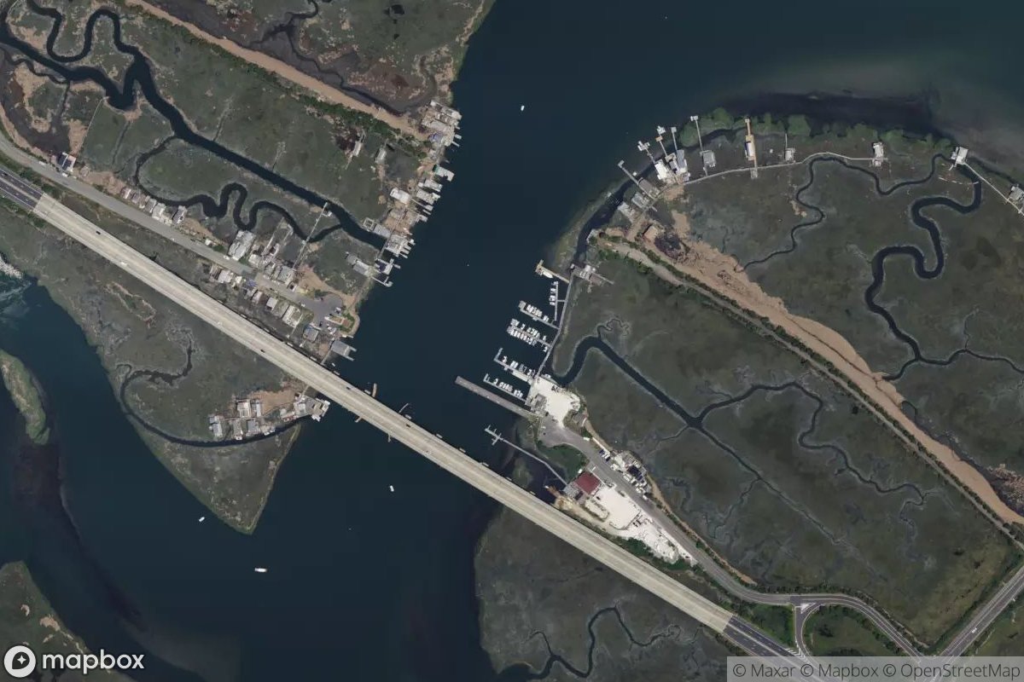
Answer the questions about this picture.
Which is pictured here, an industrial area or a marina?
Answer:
marina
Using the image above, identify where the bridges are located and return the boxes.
[33,193,733,633]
